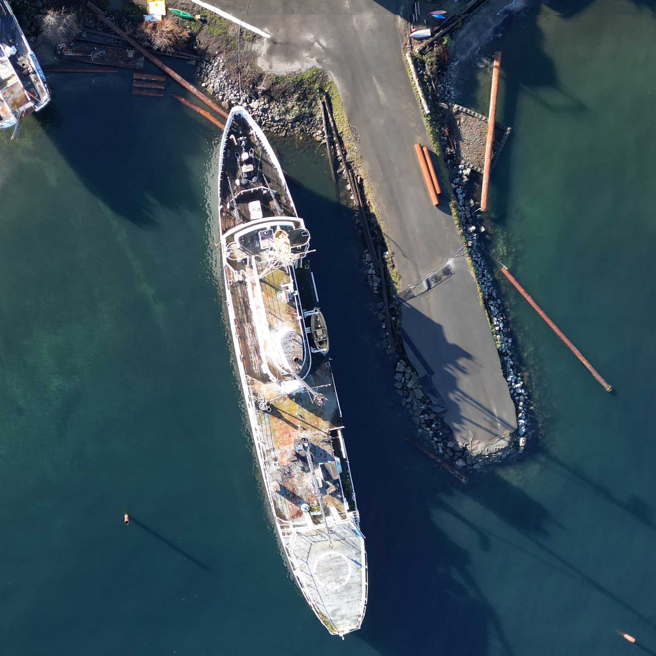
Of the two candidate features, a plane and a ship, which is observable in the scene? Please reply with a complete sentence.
There is a ship in the scene.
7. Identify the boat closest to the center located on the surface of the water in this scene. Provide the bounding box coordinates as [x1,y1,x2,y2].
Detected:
[311,308,329,355]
